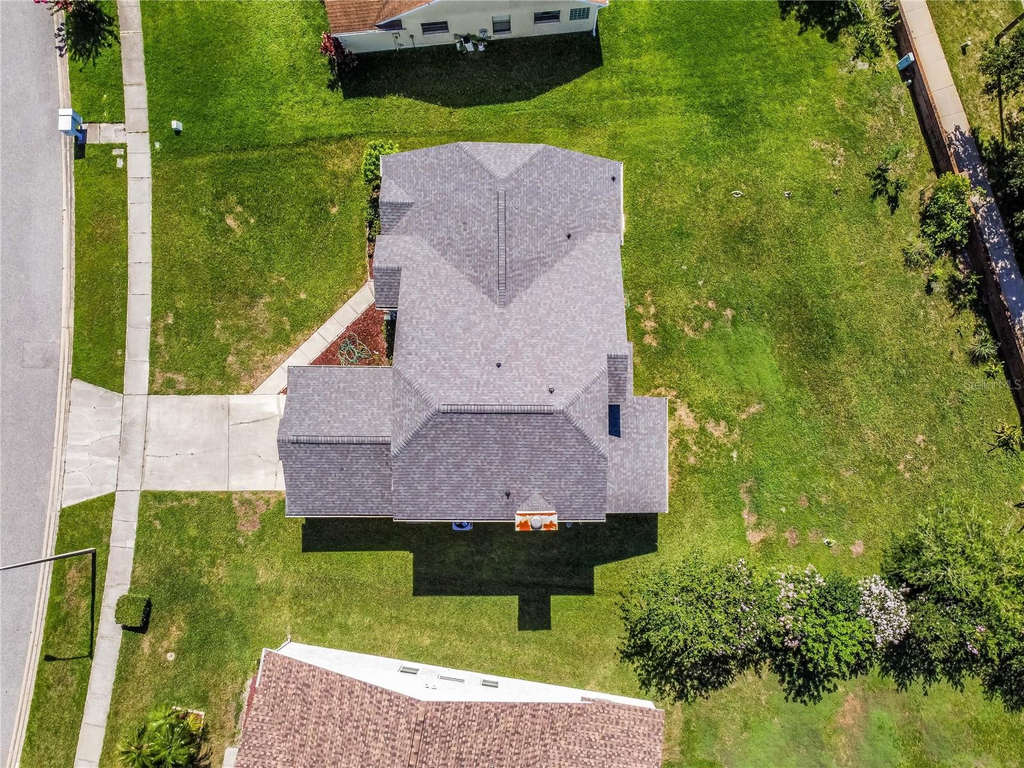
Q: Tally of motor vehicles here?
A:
none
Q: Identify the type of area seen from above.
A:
residential area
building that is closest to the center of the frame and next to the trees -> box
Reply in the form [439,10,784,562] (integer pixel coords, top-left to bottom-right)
[271,141,671,530]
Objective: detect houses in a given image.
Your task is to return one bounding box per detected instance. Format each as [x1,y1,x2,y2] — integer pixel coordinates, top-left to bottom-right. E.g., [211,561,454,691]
[271,141,671,530]
[237,631,664,768]
[326,0,612,54]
